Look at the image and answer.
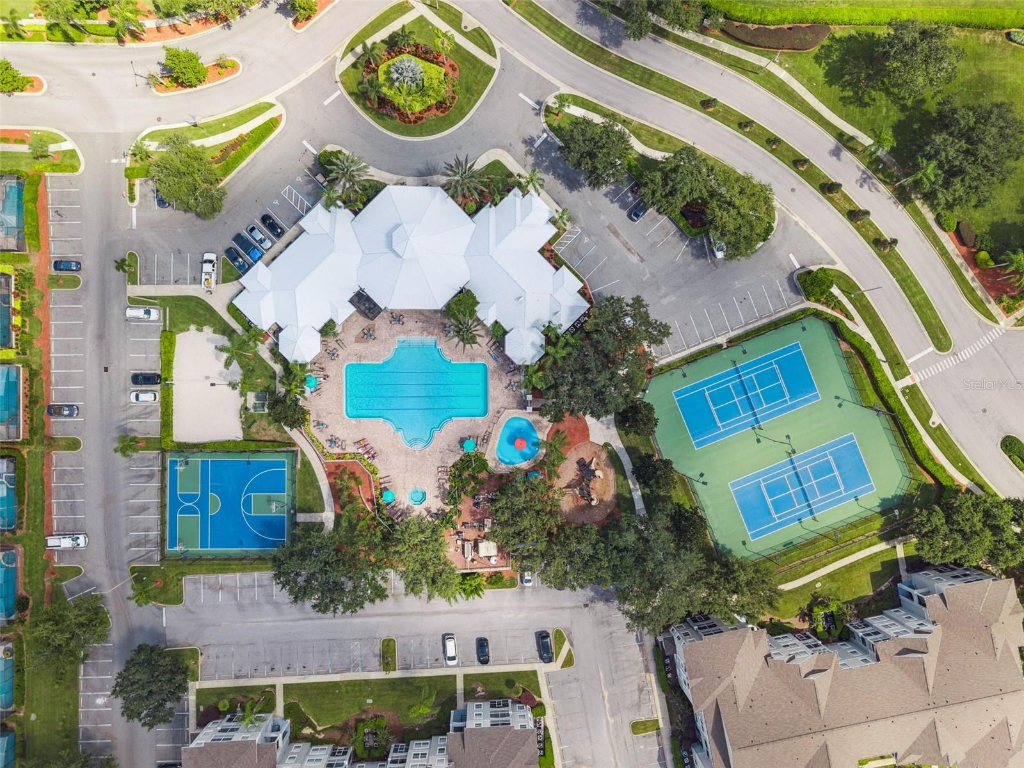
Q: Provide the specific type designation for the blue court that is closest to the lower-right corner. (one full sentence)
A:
Looking closely, the blue court that is closest to the lower-right corner is a tennis court.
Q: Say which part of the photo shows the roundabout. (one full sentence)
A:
The roundabout appears toward the top of the photo.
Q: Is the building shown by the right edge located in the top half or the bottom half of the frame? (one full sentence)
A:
The bottom half of the photo is where the building shown by the right edge is.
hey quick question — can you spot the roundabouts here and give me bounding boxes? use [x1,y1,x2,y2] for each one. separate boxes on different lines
[334,0,500,140]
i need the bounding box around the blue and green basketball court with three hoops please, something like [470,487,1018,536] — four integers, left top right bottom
[165,451,297,559]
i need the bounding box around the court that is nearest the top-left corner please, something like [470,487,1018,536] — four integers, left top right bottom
[172,325,243,442]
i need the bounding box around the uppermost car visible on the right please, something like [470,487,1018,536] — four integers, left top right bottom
[627,197,649,223]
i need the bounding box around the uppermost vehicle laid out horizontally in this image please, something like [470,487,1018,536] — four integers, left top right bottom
[54,259,83,272]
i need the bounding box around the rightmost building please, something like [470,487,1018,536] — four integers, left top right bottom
[674,568,1024,768]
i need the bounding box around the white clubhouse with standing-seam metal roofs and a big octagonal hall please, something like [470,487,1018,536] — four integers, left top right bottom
[232,186,591,365]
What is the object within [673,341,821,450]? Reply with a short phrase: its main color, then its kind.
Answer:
blue tennis court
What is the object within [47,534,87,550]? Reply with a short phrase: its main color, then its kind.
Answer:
white vehicle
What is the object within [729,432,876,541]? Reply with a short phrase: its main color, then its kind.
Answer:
blue tennis court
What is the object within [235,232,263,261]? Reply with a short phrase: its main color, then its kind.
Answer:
blue truck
